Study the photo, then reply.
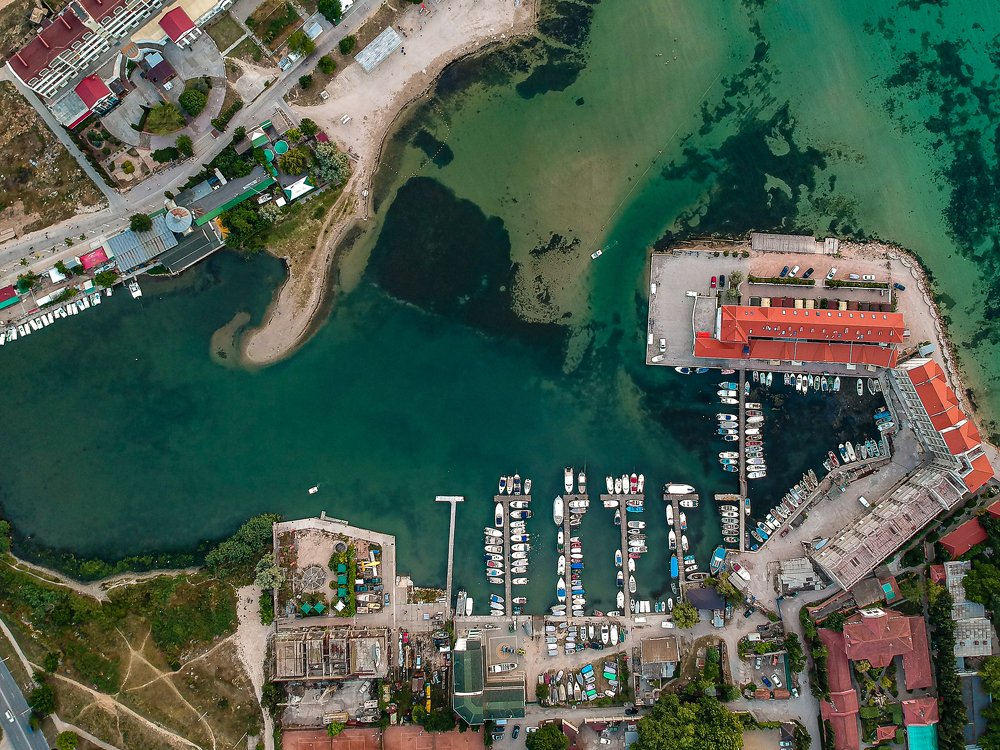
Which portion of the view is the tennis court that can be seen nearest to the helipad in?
bottom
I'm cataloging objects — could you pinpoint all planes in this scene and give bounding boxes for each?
[356,553,379,577]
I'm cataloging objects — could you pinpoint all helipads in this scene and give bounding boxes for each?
[487,631,521,674]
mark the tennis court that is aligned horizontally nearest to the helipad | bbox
[384,724,484,750]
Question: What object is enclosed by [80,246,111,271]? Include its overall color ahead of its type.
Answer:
red tent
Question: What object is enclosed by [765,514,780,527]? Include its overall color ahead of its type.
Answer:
white boat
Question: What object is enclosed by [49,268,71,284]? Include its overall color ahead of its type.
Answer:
white gazebo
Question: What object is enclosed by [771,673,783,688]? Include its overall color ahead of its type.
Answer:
white vehicle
